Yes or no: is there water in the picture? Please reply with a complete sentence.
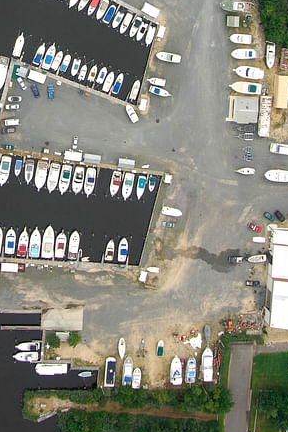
Yes, there is water in the image.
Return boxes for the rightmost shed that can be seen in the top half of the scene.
[273,75,288,108]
